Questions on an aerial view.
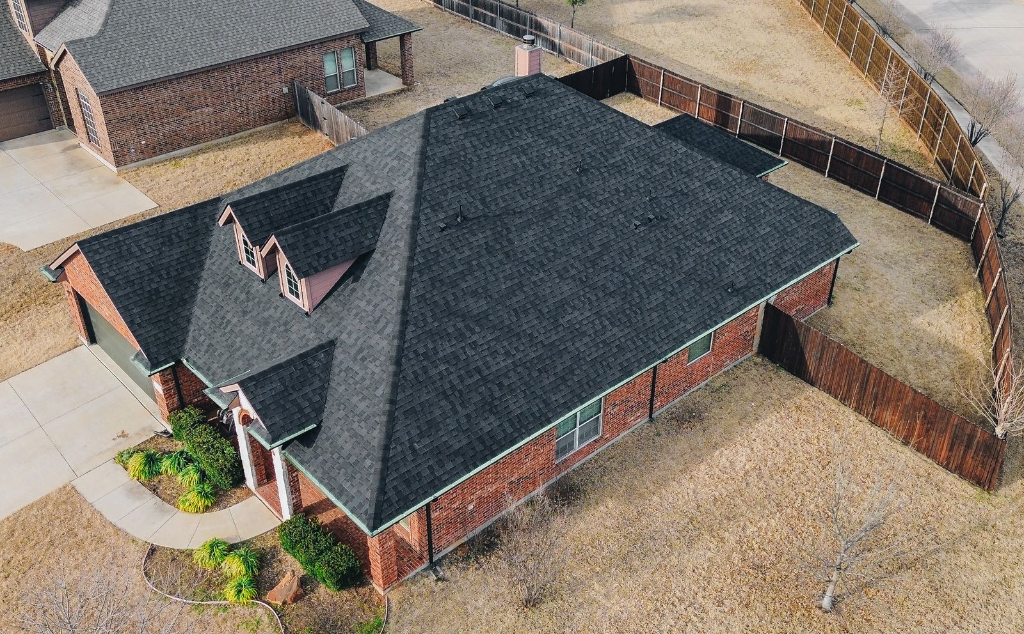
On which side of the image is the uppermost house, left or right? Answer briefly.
left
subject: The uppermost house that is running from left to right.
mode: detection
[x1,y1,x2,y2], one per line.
[0,0,422,171]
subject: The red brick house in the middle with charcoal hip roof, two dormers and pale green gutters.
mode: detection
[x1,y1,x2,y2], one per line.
[52,38,860,595]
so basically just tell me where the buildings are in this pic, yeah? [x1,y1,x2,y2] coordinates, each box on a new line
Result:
[0,0,422,171]
[52,38,860,595]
